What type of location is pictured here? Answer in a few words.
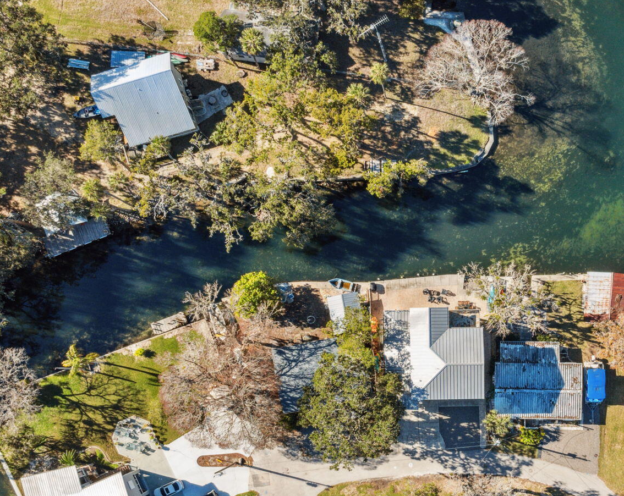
residential area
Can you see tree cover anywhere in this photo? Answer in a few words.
Yes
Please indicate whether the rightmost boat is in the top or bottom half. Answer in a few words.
bottom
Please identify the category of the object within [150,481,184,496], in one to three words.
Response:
car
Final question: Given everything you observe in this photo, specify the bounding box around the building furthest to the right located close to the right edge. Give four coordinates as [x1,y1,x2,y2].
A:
[583,272,624,320]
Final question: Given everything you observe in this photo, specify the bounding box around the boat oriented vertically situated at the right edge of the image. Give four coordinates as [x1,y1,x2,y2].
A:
[584,361,604,407]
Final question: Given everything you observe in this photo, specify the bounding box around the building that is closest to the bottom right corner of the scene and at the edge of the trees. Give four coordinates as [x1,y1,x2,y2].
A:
[494,341,582,419]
